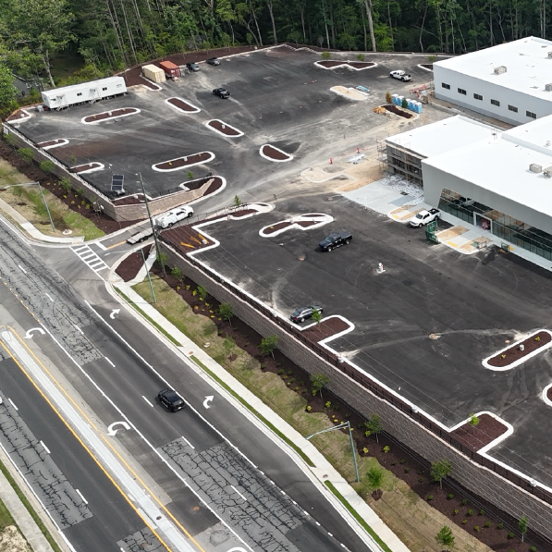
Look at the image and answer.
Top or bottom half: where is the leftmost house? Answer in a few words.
top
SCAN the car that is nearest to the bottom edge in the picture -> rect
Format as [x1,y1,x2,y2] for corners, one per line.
[158,385,184,408]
